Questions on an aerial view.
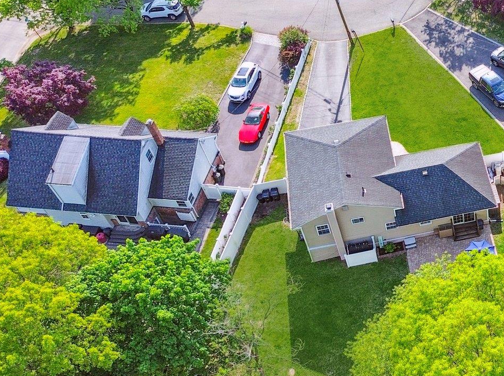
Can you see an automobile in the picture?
Yes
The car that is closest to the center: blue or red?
red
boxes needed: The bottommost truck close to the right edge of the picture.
[468,67,504,109]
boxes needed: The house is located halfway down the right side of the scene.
[283,114,504,263]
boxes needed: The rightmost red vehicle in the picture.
[238,104,272,145]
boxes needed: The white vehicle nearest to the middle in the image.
[227,60,262,101]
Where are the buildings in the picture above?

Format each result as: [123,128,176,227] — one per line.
[5,108,226,251]
[283,114,504,263]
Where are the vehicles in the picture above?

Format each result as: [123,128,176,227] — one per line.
[468,67,504,109]
[487,48,504,70]
[238,104,272,145]
[227,60,262,101]
[135,0,185,21]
